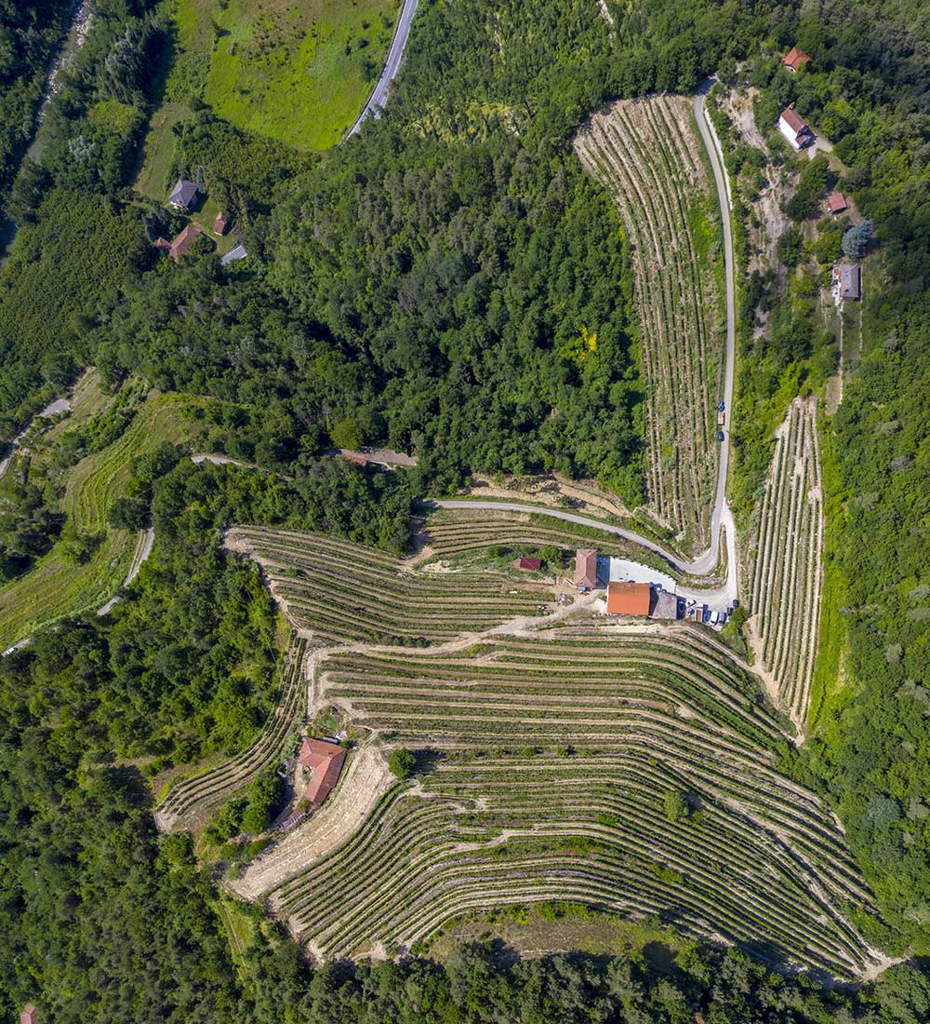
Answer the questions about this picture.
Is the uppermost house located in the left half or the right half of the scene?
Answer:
right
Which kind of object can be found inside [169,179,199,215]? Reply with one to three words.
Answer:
house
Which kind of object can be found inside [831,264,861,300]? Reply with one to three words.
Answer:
house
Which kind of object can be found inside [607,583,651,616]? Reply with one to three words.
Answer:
barn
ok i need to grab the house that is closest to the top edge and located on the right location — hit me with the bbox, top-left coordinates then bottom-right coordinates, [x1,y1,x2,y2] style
[784,48,811,72]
